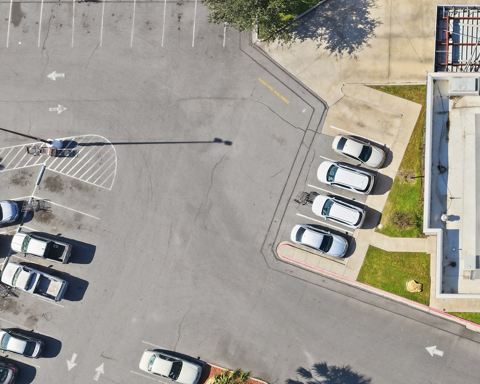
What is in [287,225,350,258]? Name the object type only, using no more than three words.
car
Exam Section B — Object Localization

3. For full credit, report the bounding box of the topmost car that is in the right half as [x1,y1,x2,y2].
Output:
[330,133,389,169]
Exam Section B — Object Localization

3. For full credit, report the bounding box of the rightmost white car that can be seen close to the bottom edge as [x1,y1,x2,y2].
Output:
[135,349,204,384]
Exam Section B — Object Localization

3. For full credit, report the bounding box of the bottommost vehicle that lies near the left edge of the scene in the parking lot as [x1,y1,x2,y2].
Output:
[0,360,21,384]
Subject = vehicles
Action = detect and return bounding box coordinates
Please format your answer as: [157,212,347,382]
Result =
[310,194,368,230]
[5,231,74,266]
[330,133,389,169]
[0,265,69,303]
[287,225,350,258]
[135,349,204,384]
[315,159,376,194]
[0,360,21,384]
[0,202,21,227]
[0,325,46,360]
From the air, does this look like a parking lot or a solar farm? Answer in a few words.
parking lot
